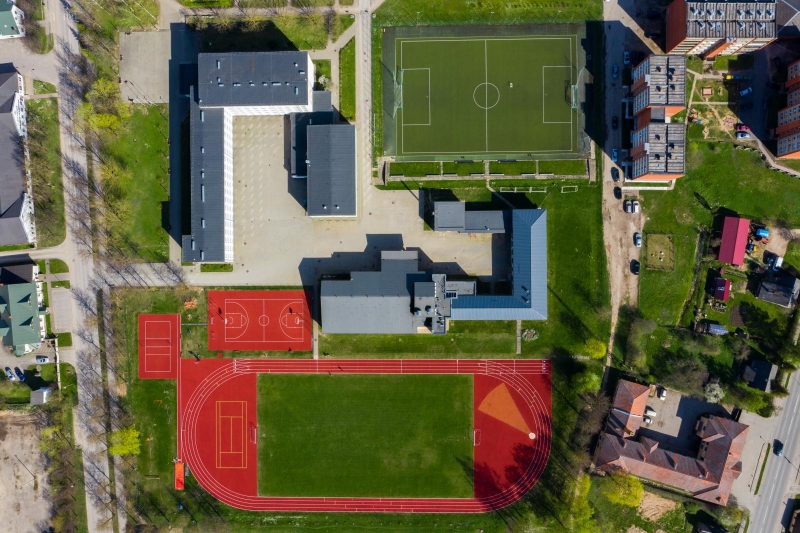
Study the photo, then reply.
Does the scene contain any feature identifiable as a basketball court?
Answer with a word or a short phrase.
Yes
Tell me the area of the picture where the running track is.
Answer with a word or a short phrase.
bottom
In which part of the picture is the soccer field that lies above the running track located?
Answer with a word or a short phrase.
top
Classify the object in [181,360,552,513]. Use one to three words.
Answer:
running track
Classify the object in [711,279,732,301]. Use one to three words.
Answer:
shed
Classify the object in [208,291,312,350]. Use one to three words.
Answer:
basketball court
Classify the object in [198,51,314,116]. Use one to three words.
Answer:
building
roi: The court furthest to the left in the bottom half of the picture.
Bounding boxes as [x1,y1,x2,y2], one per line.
[138,314,177,379]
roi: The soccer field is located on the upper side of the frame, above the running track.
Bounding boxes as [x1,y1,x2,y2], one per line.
[384,24,586,161]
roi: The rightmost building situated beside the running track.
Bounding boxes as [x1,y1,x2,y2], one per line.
[592,378,749,506]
